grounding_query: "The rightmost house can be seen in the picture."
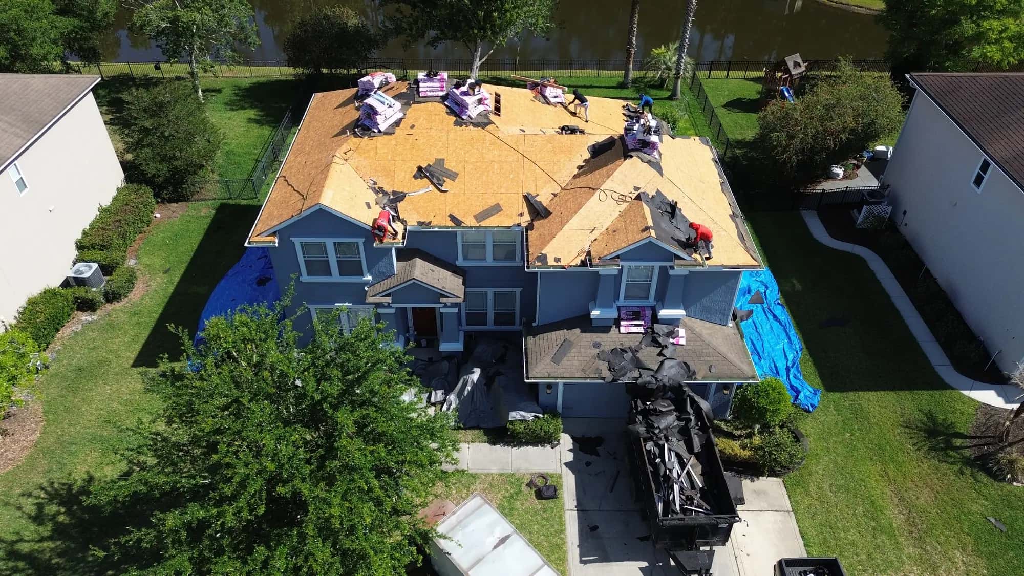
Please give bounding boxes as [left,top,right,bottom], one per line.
[876,77,1024,386]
